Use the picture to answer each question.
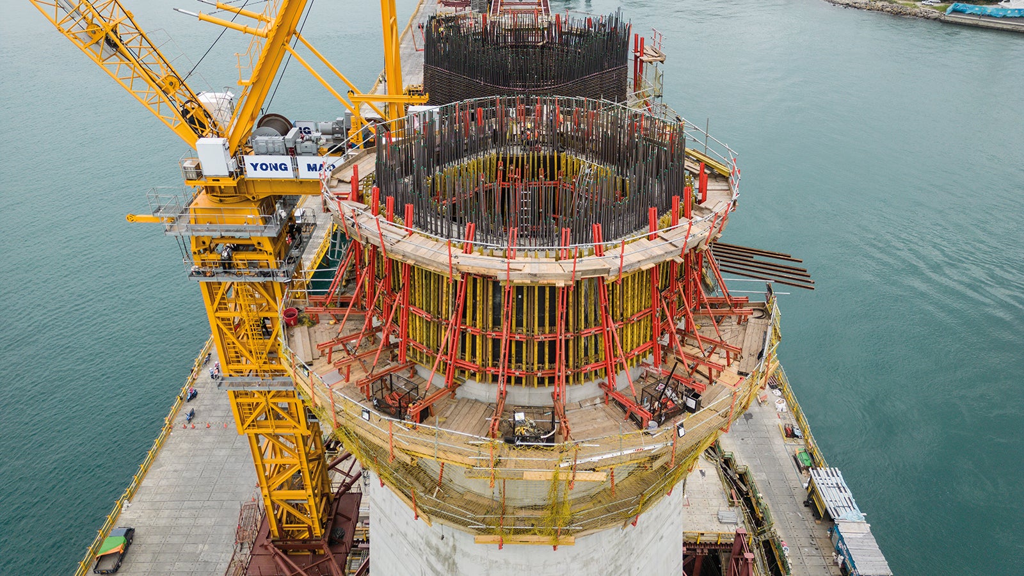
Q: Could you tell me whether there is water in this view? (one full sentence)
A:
Yes, there's water in this view.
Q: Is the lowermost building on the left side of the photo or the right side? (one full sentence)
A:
It is on the right.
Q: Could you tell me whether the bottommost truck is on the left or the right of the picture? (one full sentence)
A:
The bottommost truck is on the left side of the image.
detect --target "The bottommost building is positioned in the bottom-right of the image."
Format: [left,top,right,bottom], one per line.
[822,522,905,576]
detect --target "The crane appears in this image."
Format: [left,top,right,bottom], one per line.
[26,0,430,538]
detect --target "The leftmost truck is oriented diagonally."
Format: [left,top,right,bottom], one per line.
[91,521,140,569]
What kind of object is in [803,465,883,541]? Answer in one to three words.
shed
